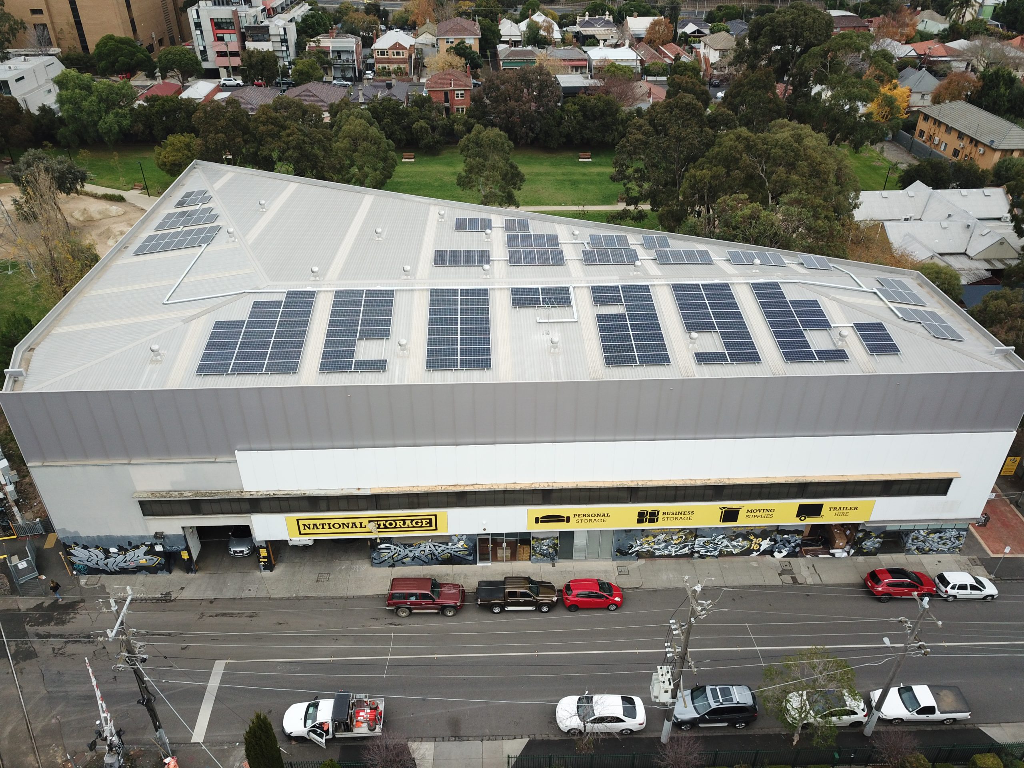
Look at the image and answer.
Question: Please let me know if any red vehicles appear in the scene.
Yes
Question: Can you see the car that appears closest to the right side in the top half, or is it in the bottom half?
bottom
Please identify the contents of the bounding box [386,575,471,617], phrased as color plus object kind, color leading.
red car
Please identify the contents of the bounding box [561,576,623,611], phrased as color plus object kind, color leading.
red car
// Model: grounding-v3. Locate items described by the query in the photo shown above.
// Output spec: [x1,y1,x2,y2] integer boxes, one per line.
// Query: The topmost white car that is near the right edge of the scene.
[929,568,997,601]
